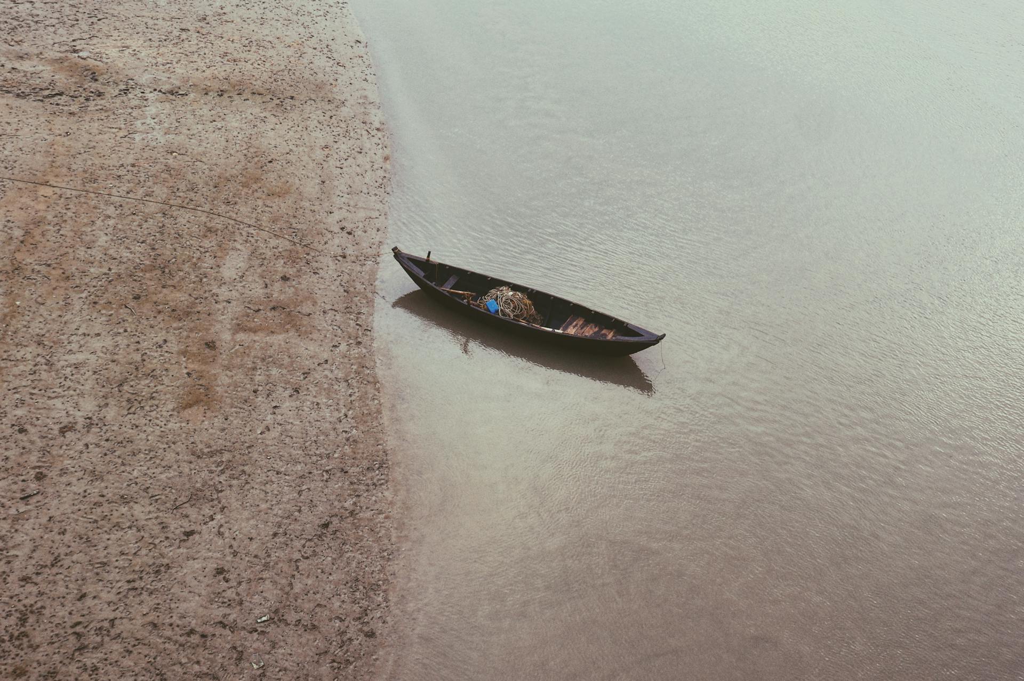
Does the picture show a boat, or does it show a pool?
boat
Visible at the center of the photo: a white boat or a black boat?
black boat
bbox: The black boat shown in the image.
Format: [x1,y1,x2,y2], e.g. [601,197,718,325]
[388,245,670,359]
